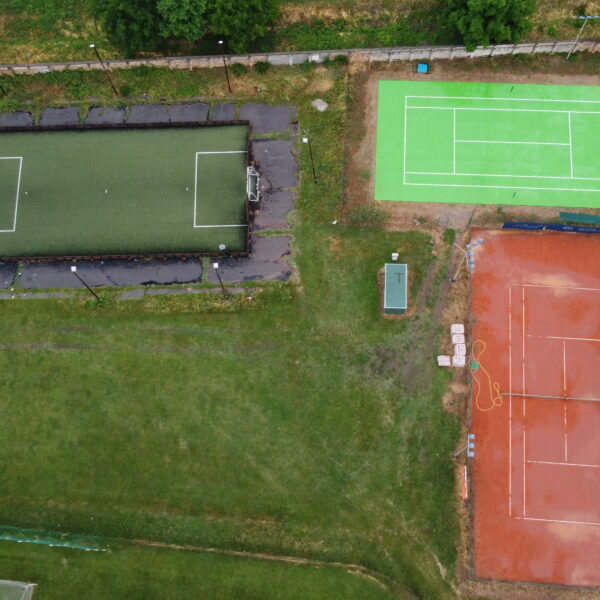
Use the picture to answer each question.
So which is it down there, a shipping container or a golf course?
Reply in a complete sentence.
There is a shipping container in the scene.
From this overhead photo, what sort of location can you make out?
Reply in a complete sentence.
This looks like a sports ground.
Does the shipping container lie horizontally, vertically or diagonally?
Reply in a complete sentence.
The shipping container is oriented vertically.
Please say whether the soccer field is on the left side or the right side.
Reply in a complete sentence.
It is on the left.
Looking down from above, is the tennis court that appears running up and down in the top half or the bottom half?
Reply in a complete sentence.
Seen from above, the tennis court that appears running up and down lies in the bottom half of the view.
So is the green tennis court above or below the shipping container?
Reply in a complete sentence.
You can see the green tennis court above the shipping container in the frame.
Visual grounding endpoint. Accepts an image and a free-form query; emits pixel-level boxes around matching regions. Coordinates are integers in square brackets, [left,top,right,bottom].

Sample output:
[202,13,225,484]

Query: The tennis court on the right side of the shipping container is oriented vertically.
[472,234,600,594]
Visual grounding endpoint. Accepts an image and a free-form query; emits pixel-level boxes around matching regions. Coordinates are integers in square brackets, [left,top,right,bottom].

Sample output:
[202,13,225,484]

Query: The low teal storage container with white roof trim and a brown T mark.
[383,264,408,313]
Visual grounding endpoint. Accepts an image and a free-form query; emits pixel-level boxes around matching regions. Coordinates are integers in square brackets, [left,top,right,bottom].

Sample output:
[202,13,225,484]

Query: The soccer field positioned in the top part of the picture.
[0,125,258,255]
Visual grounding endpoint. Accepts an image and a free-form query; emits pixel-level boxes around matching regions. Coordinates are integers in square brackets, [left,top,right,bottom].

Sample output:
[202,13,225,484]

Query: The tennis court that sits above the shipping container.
[374,80,600,209]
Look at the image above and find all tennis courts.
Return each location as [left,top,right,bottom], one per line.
[374,80,600,209]
[472,234,600,594]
